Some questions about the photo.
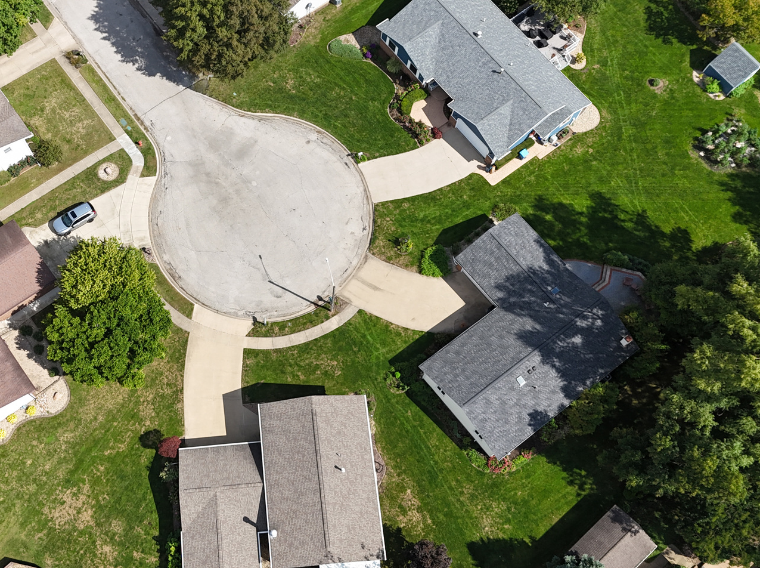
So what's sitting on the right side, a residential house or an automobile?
residential house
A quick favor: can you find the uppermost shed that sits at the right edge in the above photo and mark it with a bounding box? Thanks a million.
[700,42,760,98]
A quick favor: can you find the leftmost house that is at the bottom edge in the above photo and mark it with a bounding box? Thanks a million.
[174,394,387,568]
